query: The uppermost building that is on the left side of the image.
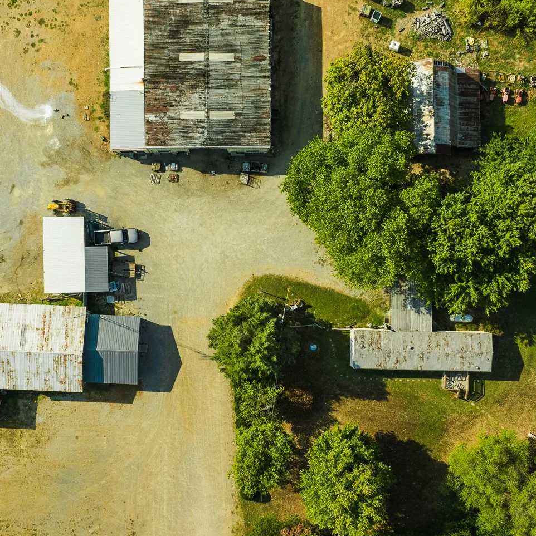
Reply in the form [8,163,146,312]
[106,0,272,157]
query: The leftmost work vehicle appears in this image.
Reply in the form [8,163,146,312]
[45,199,84,216]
